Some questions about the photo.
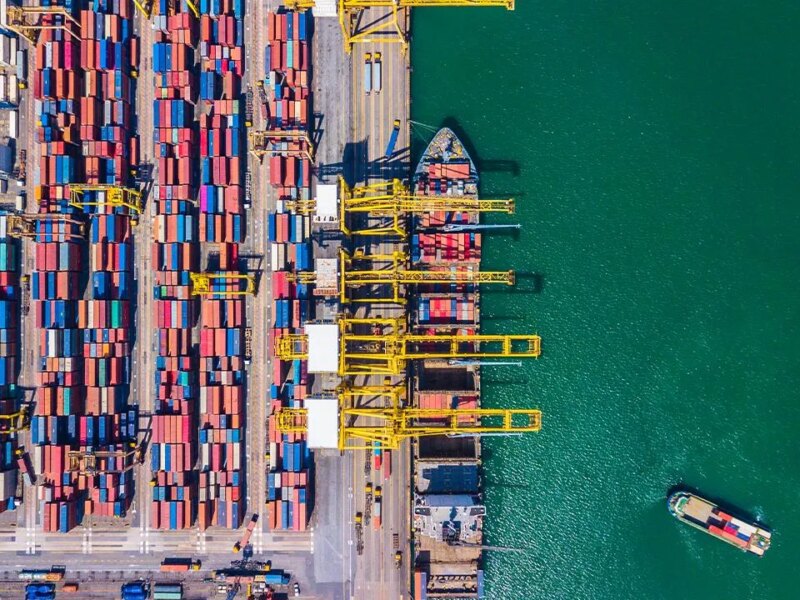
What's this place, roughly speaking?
port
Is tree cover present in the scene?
No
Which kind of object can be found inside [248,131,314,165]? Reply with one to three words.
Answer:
container crane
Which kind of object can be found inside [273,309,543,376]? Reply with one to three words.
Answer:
container crane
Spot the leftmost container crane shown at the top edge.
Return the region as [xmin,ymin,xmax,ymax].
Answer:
[4,6,81,48]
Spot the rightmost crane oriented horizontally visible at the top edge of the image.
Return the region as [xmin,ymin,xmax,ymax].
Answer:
[284,0,515,63]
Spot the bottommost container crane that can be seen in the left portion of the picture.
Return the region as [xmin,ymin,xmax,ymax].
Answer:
[68,441,143,475]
